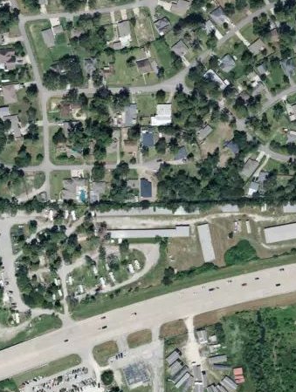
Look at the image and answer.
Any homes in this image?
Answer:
Yes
